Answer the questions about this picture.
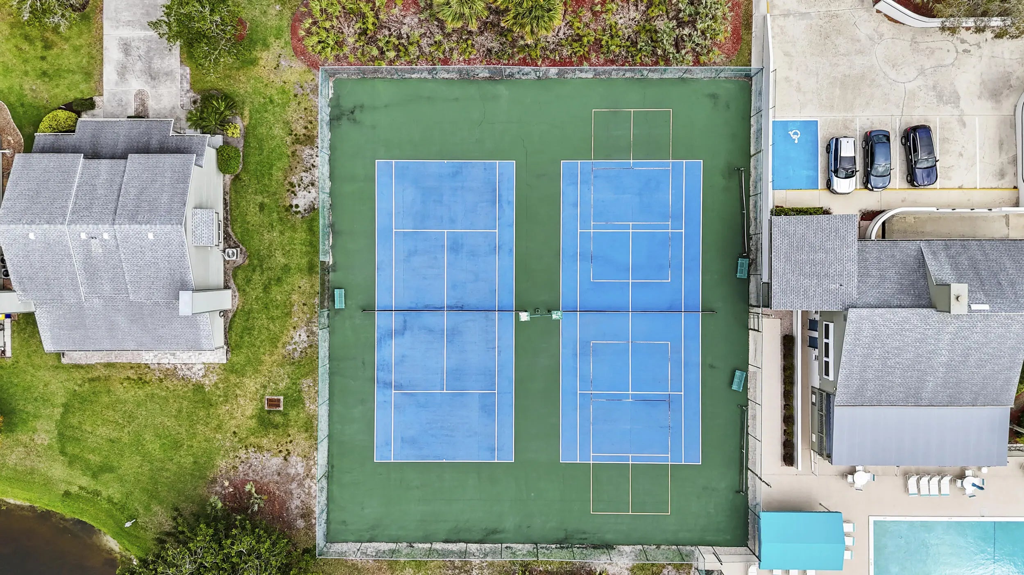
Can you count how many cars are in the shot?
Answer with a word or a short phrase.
three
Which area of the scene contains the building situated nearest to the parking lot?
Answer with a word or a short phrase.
right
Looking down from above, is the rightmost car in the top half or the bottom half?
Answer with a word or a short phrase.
top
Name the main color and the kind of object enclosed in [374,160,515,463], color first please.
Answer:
blue tennis court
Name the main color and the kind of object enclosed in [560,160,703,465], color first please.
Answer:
blue tennis court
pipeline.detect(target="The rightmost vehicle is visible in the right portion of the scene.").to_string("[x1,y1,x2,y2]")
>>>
[901,128,939,192]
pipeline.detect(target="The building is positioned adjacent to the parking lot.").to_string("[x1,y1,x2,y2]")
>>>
[763,214,1024,475]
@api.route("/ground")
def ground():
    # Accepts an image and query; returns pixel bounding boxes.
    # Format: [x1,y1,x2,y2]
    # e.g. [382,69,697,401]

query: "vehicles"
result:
[825,135,858,195]
[901,128,939,192]
[860,129,893,192]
